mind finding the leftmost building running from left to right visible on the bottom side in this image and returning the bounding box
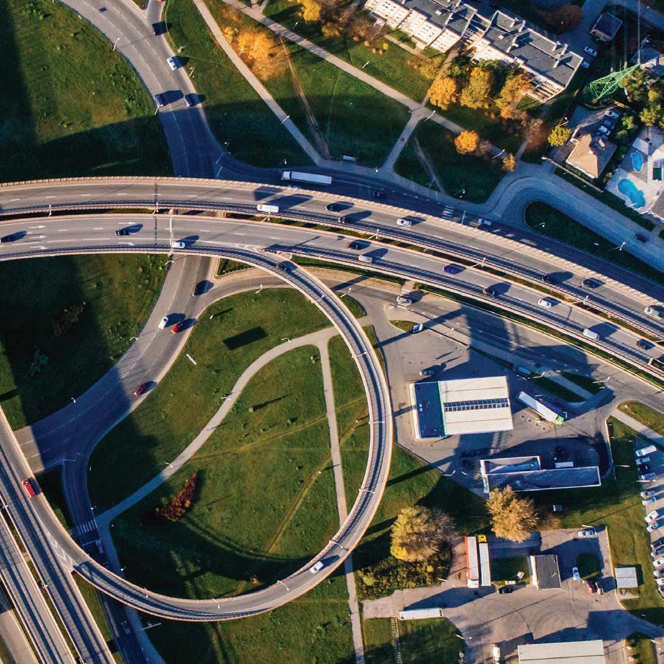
[475,456,542,474]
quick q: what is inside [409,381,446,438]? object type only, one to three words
building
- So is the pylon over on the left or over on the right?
right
